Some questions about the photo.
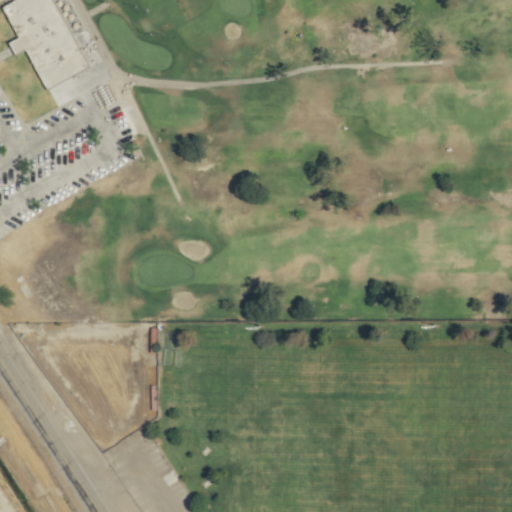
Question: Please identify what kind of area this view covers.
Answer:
golf course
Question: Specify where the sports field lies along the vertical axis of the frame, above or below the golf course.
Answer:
below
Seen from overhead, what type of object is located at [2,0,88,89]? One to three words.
building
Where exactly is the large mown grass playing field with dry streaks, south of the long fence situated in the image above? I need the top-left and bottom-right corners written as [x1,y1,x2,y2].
[154,323,512,512]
